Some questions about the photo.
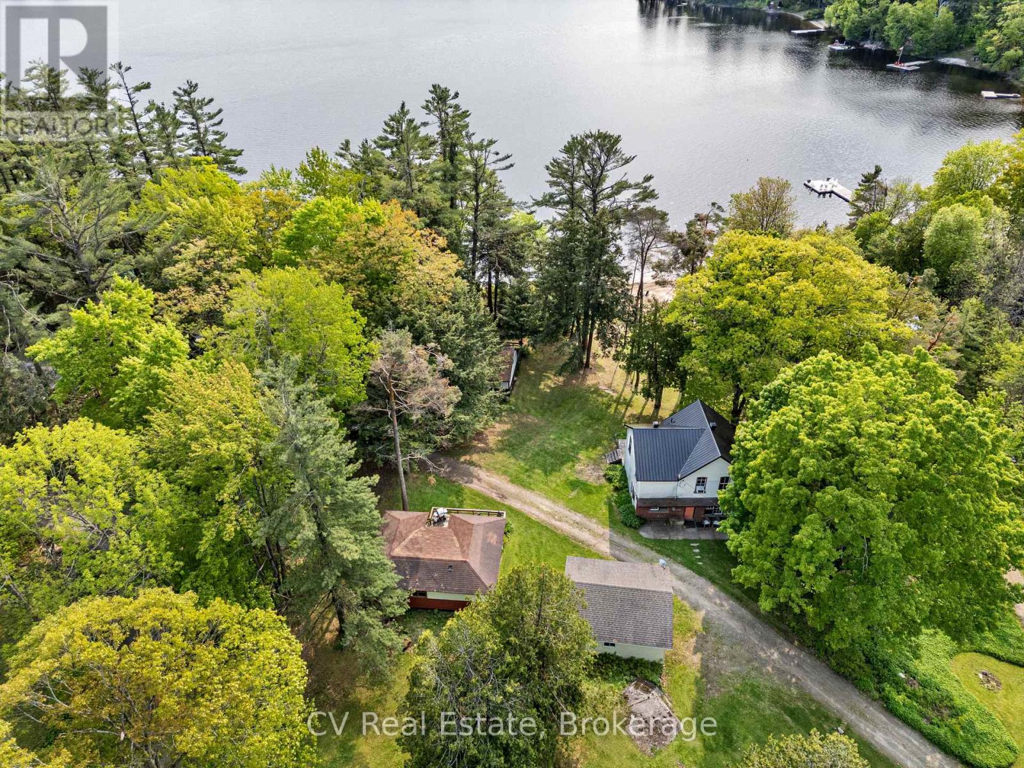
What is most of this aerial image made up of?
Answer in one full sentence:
The bulk of the photo consists of trees.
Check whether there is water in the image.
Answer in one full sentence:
Yes, the picture does contain water.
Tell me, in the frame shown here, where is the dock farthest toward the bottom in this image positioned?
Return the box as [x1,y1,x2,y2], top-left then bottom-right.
[804,180,874,209]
